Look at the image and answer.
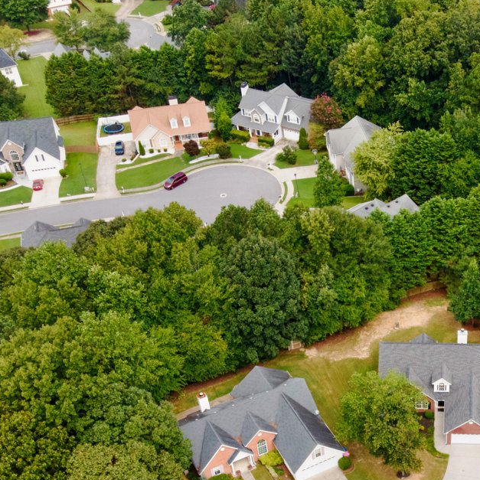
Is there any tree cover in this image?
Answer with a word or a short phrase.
Yes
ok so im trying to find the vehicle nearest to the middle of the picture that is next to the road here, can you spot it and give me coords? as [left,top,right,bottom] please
[162,166,190,188]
